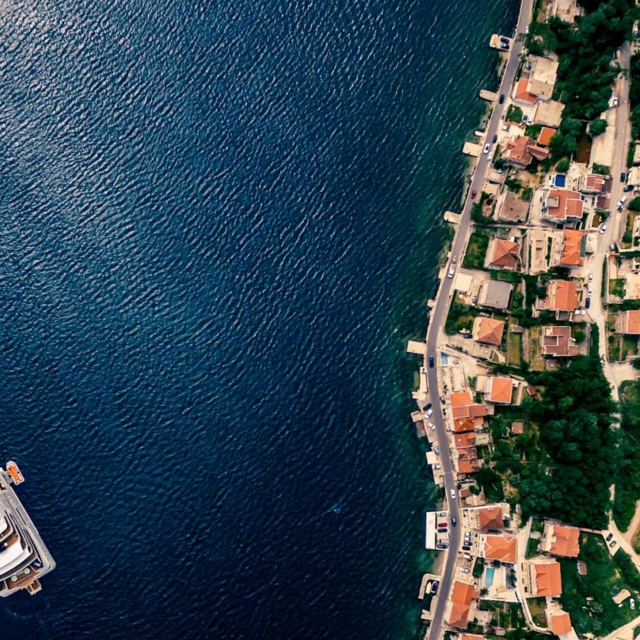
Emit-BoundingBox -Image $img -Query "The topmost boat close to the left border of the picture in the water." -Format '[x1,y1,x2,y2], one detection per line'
[7,461,24,484]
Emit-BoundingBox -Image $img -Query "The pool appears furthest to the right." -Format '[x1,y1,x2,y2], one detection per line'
[553,173,567,188]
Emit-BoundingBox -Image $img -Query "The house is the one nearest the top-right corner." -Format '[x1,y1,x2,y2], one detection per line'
[549,0,580,26]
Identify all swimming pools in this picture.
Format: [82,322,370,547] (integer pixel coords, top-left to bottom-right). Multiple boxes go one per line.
[484,567,496,588]
[553,173,567,188]
[440,352,449,366]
